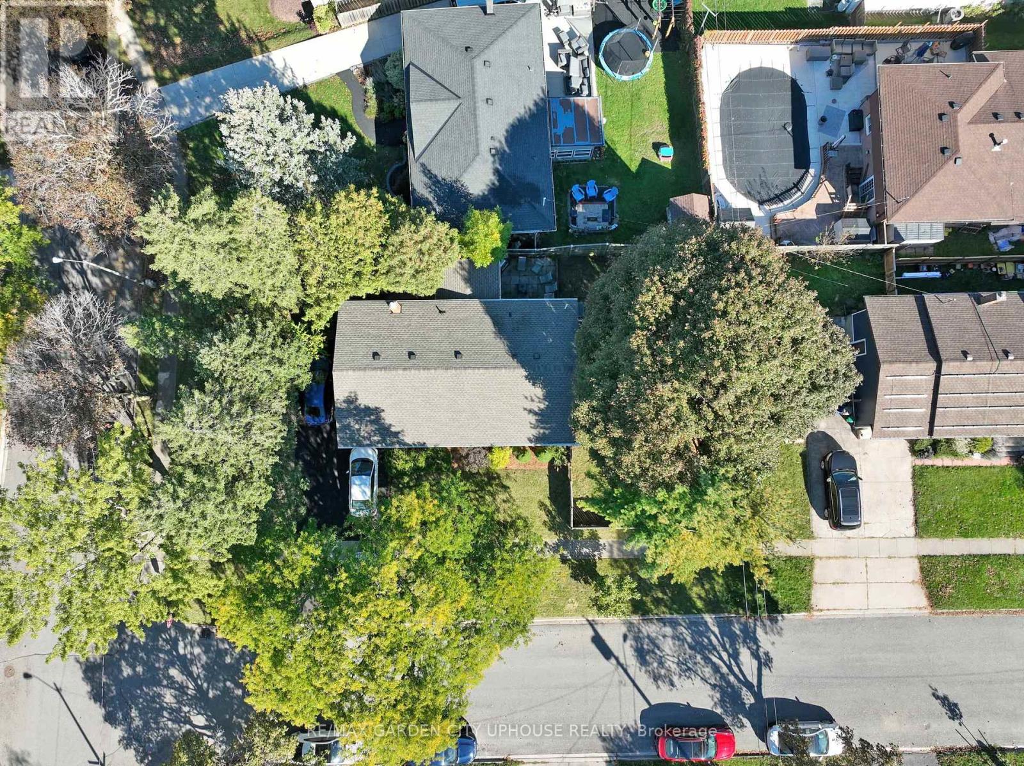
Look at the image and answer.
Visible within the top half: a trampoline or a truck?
trampoline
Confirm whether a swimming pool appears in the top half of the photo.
Yes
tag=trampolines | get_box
[596,15,658,88]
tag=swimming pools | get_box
[711,60,819,211]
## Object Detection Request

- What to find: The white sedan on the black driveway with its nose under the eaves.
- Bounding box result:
[346,448,381,521]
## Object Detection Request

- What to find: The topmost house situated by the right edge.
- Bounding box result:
[859,49,1024,228]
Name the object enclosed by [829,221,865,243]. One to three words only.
greenhouse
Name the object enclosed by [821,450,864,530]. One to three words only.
car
